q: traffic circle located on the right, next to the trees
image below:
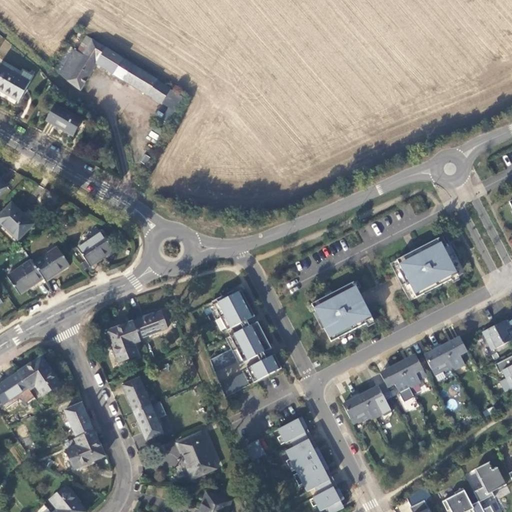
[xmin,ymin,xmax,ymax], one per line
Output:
[430,148,470,189]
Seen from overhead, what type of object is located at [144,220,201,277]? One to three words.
roundabout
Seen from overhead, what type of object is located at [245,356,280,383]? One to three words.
house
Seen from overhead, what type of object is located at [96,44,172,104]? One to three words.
barn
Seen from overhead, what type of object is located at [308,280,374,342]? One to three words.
building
